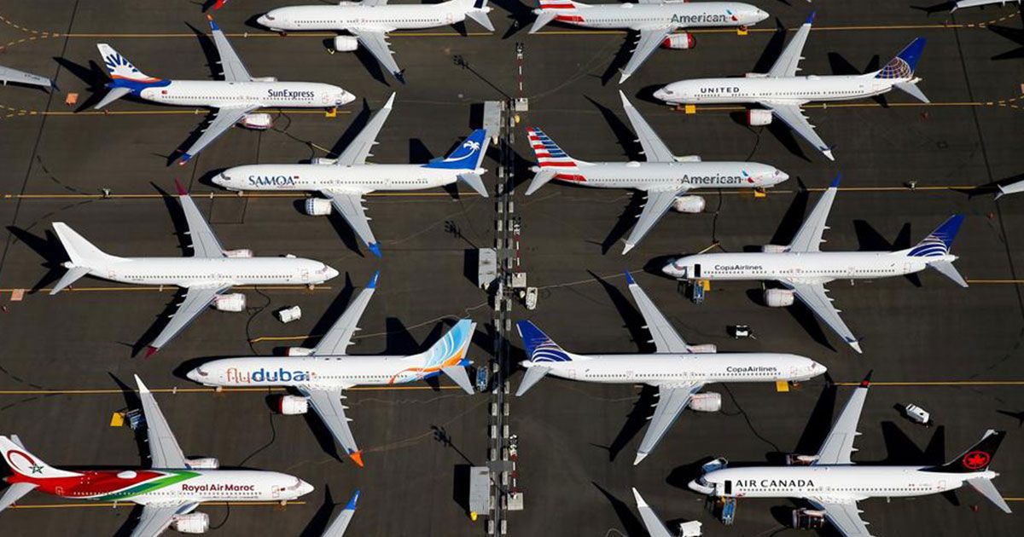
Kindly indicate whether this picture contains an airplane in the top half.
Yes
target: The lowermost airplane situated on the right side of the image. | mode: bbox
[632,487,670,537]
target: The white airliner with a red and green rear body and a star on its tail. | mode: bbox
[0,375,313,537]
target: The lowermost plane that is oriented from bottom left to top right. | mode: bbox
[324,490,361,537]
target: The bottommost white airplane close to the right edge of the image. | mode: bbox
[688,369,1010,537]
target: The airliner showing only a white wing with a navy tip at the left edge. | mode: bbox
[0,50,57,91]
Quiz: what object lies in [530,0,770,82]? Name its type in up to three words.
airplane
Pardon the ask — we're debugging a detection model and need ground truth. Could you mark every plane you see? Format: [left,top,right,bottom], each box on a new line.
[95,15,354,165]
[688,369,1010,537]
[653,9,931,160]
[51,178,338,359]
[530,0,770,82]
[632,487,670,537]
[324,490,361,537]
[0,50,57,91]
[515,267,827,466]
[0,375,313,537]
[950,0,1002,13]
[187,269,477,467]
[662,172,969,353]
[212,92,492,257]
[525,90,790,255]
[257,0,494,82]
